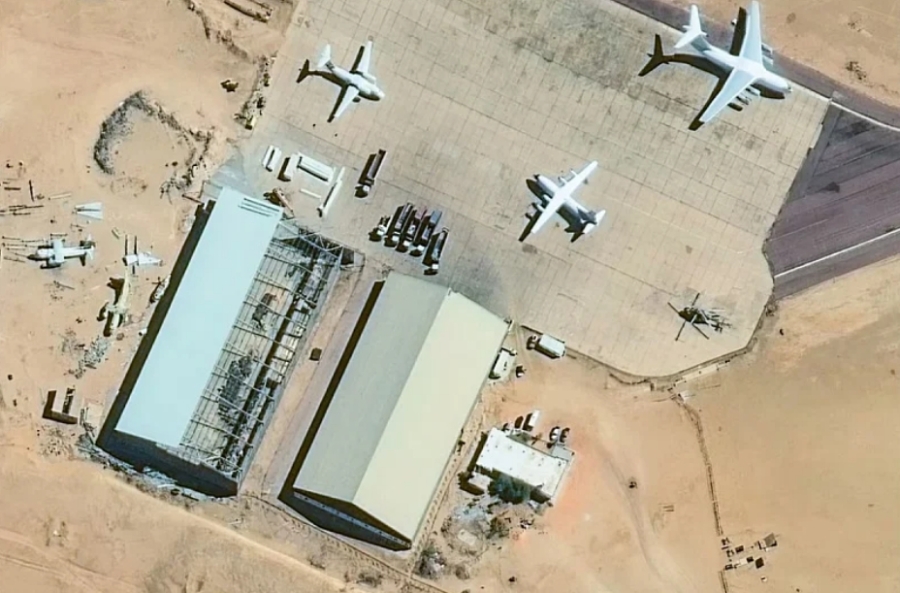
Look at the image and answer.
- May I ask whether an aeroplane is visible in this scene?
Yes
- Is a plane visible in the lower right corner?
No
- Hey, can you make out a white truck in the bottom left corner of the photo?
No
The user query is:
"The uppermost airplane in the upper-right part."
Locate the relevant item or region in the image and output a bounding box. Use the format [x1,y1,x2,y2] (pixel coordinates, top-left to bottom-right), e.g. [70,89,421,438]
[675,0,792,119]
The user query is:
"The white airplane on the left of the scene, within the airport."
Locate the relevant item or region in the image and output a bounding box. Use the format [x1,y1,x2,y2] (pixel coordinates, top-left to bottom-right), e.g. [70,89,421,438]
[317,41,383,118]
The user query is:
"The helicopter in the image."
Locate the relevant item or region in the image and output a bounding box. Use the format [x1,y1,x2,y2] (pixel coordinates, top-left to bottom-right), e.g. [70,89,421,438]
[679,285,735,332]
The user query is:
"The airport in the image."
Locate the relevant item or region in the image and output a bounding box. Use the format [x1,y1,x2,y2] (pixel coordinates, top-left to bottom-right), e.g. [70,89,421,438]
[196,0,900,385]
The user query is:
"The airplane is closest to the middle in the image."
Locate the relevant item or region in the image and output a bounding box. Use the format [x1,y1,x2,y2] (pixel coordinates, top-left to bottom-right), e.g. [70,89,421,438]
[528,158,606,237]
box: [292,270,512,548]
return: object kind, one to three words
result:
hangar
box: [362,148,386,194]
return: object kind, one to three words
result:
truck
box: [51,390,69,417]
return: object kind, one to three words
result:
shed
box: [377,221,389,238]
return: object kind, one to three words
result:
vehicle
